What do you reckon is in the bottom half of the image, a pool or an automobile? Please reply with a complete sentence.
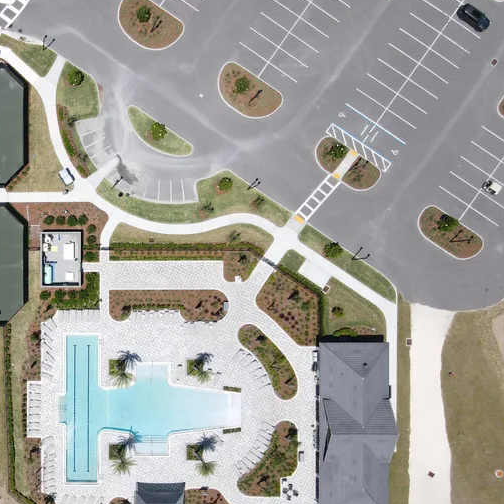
The feature located in the bottom half of the image is a pool.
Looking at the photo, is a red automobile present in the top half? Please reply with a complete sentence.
No, there is no red automobile in the top half.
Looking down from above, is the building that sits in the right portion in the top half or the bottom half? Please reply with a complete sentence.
It is in the bottom half that the building that sits in the right portion appears.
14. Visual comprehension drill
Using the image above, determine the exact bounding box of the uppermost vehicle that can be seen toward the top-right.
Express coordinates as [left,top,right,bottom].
[457,4,488,32]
